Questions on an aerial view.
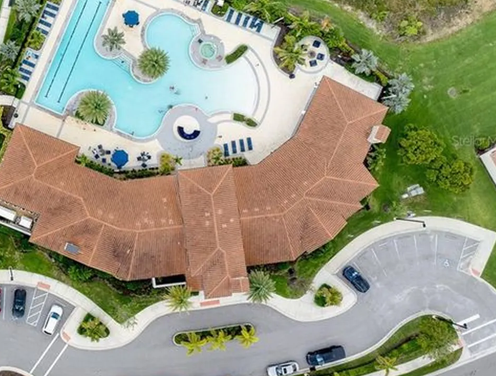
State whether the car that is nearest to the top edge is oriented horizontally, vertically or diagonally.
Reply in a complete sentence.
The car that is nearest to the top edge is oriented diagonally.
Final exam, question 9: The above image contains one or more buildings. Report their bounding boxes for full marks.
[481,149,496,187]
[0,75,396,303]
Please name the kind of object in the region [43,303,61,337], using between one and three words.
car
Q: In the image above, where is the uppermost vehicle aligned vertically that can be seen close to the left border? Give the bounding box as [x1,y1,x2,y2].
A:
[12,288,26,320]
